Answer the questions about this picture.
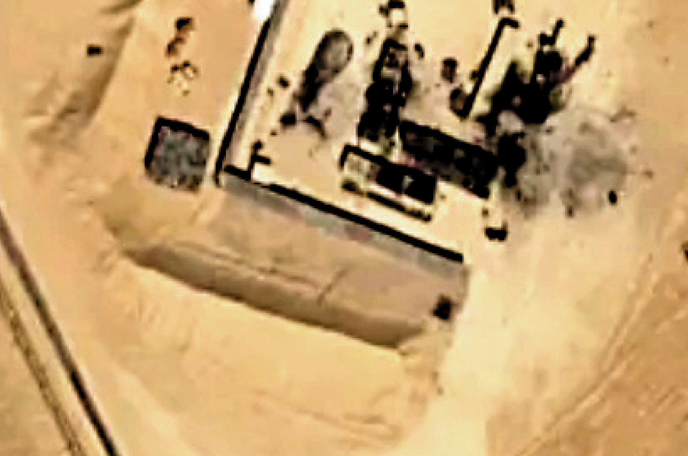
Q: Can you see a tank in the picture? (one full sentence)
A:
Yes, looking at the shot, I can spot a tank.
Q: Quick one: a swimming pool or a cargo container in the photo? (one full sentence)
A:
The image shows a cargo container.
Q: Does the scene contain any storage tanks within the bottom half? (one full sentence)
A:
No, I can find no storage tank within the bottom half.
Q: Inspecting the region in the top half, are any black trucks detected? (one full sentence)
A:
Yes, a black truck can be seen in the top half.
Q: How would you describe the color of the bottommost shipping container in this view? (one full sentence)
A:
In this view, the bottommost shipping container is black.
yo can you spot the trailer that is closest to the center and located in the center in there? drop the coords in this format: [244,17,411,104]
[342,159,441,220]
